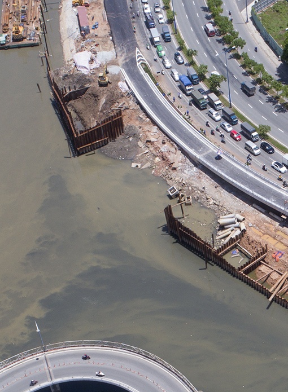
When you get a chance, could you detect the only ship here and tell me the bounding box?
[0,0,43,51]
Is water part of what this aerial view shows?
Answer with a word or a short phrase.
Yes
